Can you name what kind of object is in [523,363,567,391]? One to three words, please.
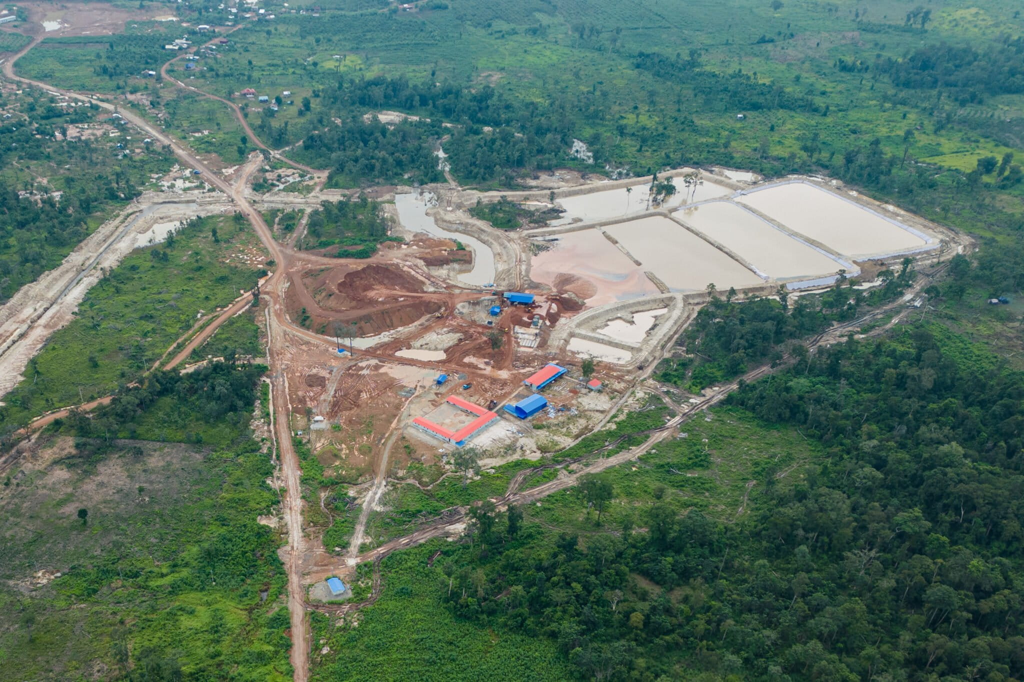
building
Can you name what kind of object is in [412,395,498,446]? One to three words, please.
building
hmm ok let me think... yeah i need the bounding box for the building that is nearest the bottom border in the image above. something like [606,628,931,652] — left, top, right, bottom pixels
[324,574,347,598]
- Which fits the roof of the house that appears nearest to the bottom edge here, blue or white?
blue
